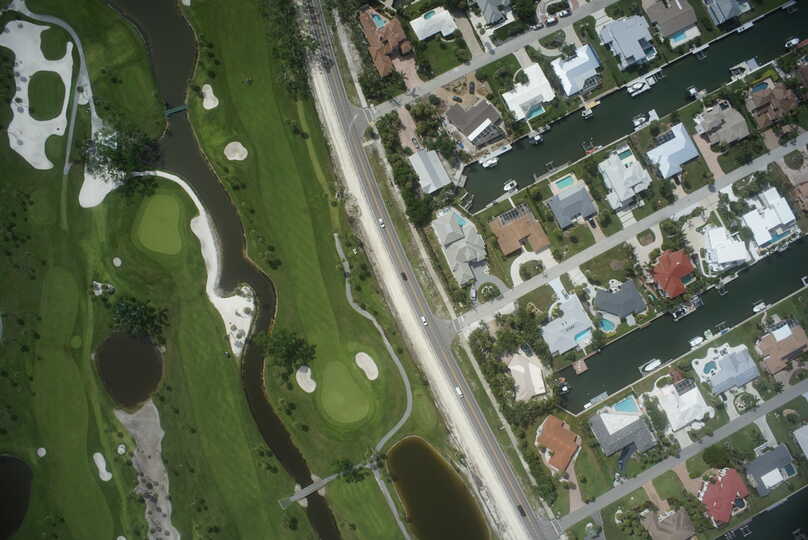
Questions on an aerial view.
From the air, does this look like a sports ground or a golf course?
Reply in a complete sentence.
It's a golf course.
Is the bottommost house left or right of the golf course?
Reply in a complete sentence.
In the image, the bottommost house sits on the right side of the golf course.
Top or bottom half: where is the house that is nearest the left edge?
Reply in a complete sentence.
The top half of the photo is where the house that is nearest the left edge is.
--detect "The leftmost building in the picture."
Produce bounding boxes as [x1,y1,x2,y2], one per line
[362,8,412,77]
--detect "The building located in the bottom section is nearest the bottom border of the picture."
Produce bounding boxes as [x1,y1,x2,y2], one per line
[641,508,697,540]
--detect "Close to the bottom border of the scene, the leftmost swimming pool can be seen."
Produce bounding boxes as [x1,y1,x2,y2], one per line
[732,497,748,513]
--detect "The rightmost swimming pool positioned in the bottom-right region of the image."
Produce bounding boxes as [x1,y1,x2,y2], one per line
[783,462,798,479]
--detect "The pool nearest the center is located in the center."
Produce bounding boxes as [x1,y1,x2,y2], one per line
[441,206,474,231]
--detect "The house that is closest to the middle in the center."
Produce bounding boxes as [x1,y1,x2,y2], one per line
[432,212,488,287]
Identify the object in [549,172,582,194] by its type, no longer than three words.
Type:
swimming pool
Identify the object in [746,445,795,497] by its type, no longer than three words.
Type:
house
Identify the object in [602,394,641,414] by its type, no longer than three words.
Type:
swimming pool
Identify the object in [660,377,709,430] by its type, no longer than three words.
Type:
house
